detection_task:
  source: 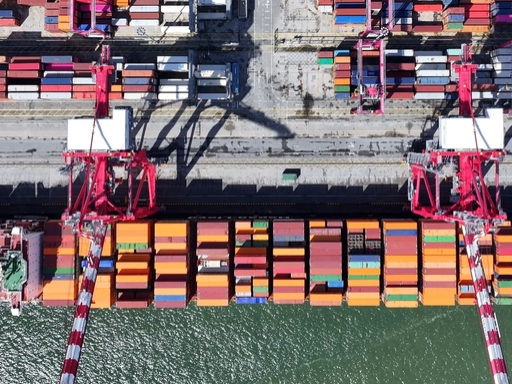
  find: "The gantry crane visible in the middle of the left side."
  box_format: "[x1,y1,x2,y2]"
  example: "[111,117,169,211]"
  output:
[57,47,167,384]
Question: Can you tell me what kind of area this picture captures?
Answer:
port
